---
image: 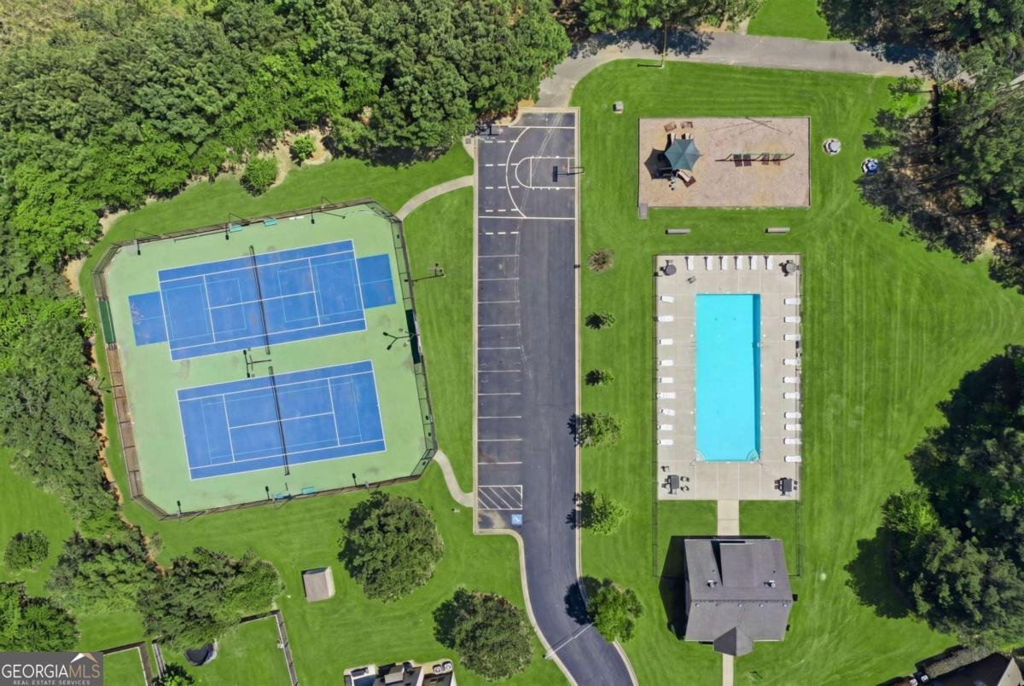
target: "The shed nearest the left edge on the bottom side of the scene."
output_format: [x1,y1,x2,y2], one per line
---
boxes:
[299,568,331,602]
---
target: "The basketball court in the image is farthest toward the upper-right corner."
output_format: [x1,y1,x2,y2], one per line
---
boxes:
[478,113,575,218]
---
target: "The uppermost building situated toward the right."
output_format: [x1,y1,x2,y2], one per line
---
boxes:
[682,537,795,659]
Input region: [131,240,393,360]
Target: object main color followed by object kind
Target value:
blue tennis court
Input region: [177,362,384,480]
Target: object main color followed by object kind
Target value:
blue tennis court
